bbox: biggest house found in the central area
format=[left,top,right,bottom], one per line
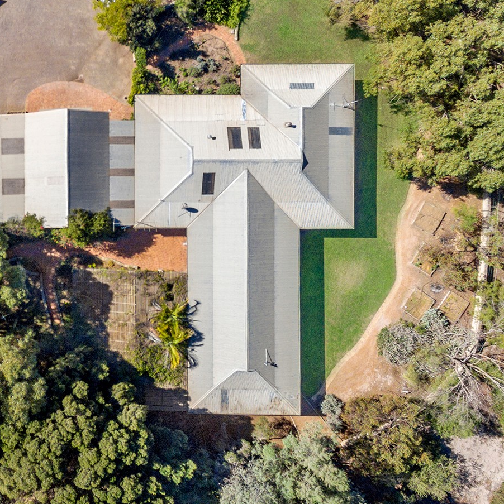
[133,63,355,416]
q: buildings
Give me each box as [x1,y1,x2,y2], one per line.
[24,108,110,228]
[133,63,355,416]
